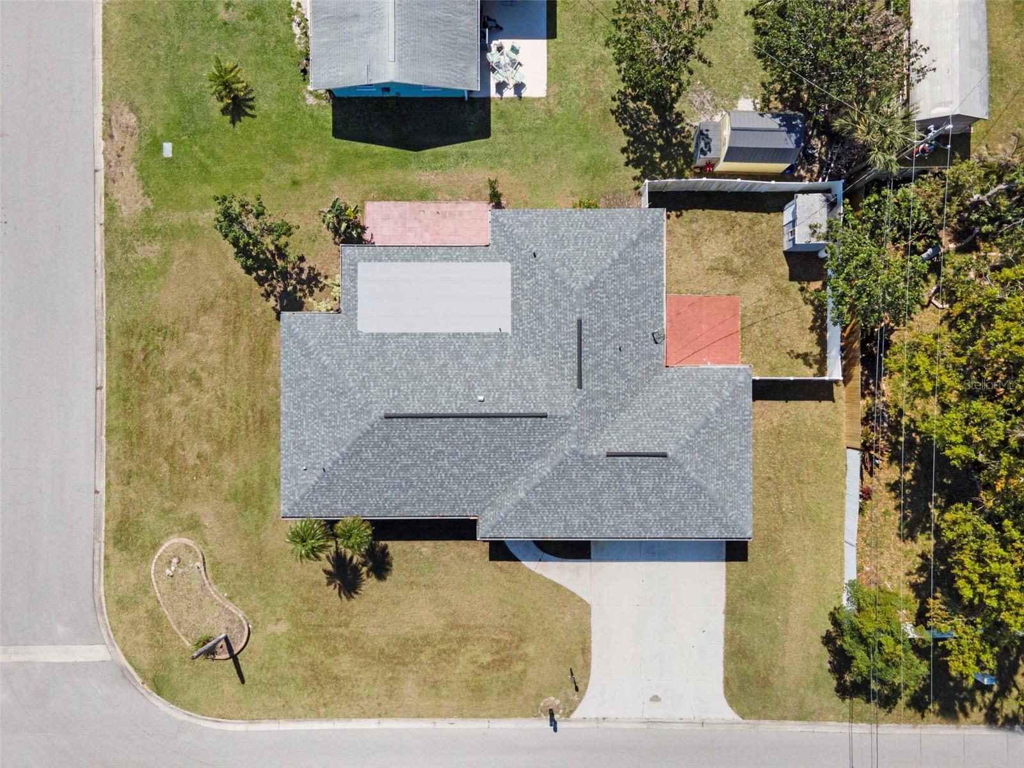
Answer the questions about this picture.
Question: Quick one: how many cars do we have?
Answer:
none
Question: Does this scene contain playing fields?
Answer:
No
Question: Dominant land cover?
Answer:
grass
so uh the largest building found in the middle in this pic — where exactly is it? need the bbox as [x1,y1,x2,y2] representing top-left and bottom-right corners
[281,208,753,542]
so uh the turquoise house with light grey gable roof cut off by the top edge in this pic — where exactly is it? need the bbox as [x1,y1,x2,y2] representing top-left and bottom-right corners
[308,0,489,98]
